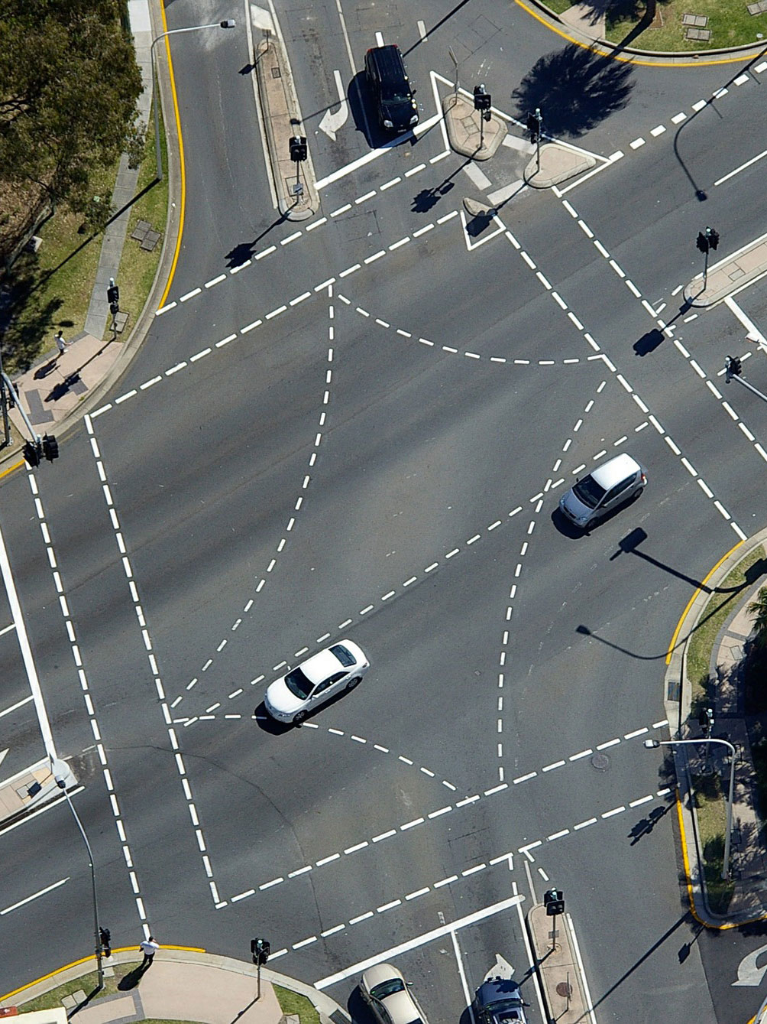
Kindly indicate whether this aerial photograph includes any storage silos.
No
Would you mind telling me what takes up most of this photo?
paved ground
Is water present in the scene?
No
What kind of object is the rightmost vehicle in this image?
automobile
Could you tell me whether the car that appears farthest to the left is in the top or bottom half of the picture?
bottom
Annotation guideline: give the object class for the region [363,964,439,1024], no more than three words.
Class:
car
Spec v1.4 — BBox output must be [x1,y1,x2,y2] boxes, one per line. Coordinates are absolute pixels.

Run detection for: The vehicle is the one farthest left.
[256,638,371,727]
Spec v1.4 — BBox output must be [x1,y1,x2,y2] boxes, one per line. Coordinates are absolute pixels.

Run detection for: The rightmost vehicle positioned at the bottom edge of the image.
[473,972,531,1024]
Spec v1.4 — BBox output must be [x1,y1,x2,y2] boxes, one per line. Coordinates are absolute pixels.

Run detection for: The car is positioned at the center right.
[559,454,648,530]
